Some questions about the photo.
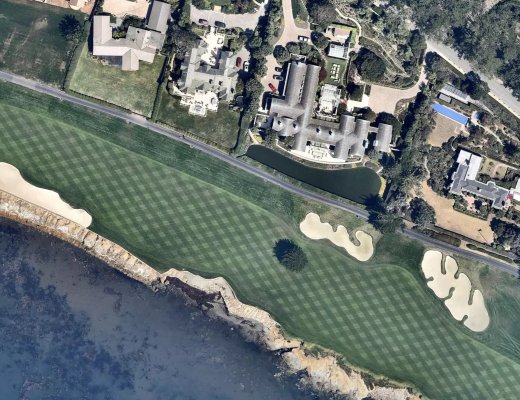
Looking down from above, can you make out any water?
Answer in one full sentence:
Yes, water can be seen from above here.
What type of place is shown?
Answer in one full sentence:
What you see here is a golf course.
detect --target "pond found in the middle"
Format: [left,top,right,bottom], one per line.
[247,144,381,203]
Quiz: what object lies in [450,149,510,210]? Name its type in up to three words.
house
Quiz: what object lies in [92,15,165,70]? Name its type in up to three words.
house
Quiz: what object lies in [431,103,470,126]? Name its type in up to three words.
swimming pool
